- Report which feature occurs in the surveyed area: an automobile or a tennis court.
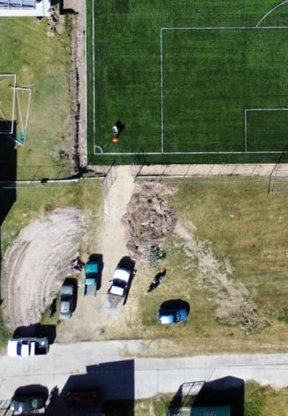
automobile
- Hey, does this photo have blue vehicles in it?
Yes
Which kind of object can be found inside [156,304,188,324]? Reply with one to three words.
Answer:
car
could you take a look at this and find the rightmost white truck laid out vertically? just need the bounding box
[105,267,129,315]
